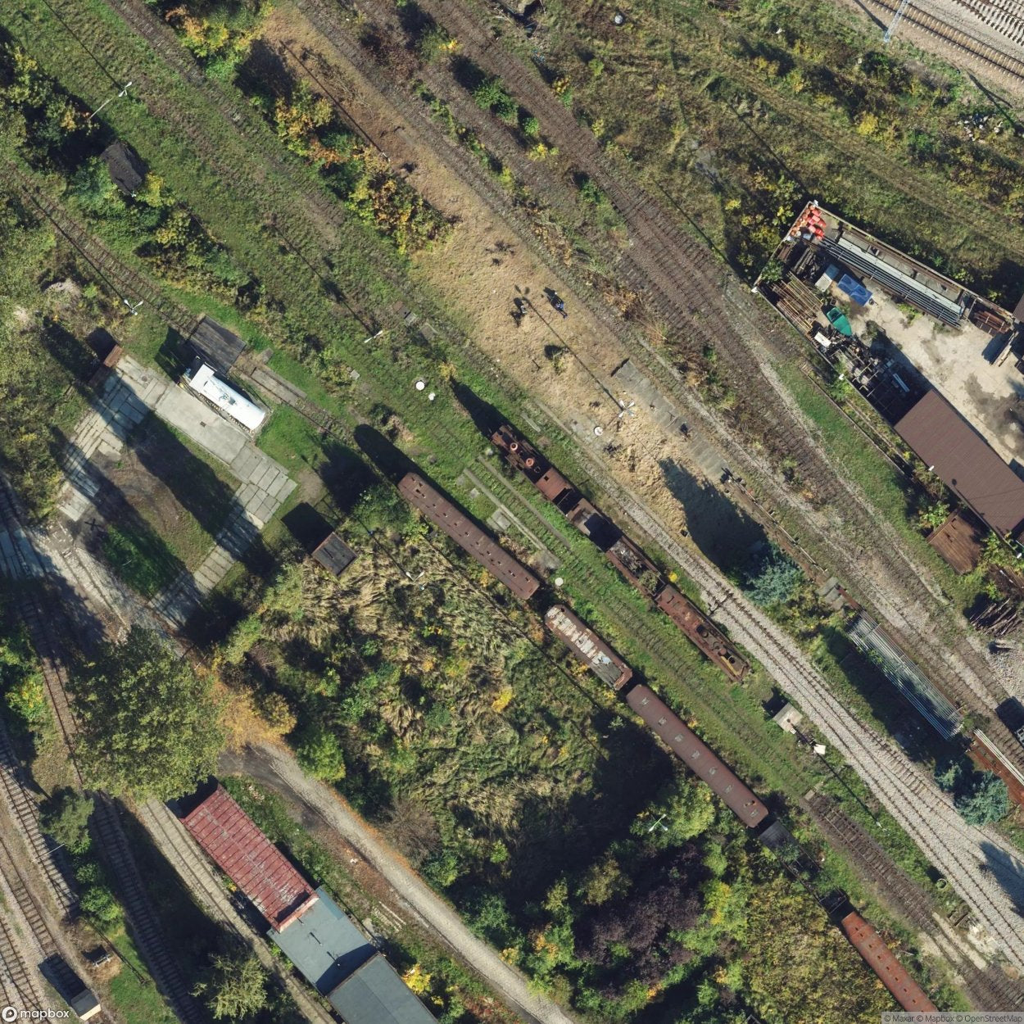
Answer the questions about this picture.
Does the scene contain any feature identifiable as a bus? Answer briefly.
Yes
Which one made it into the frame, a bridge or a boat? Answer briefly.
boat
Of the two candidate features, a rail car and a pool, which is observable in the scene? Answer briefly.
rail car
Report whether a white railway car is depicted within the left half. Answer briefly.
Yes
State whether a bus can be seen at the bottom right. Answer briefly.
Yes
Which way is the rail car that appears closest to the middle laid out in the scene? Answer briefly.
diagonally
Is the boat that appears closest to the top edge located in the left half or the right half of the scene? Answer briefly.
right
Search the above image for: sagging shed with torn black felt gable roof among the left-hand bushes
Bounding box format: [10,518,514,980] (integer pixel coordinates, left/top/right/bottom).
[101,140,151,196]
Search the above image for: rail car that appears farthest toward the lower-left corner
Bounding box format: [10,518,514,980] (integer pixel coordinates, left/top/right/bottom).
[71,986,104,1018]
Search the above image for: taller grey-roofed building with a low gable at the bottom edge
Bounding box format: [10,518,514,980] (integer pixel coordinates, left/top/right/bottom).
[328,949,442,1024]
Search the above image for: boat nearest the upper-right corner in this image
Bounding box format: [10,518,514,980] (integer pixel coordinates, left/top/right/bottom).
[823,302,851,336]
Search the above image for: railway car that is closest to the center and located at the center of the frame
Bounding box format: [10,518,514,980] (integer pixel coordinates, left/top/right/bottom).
[486,422,572,504]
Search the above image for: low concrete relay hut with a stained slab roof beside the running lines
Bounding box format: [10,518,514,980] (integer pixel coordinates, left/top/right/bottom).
[772,703,803,731]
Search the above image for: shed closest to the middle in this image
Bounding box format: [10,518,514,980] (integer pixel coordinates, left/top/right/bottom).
[311,531,358,576]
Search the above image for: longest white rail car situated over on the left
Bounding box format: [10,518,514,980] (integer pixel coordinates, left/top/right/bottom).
[179,364,265,435]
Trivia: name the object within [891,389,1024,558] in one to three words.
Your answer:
shed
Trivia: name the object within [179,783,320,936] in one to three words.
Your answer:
building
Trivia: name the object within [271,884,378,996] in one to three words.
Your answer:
building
